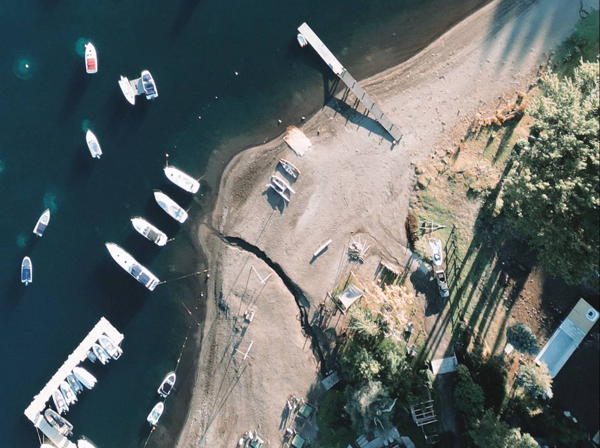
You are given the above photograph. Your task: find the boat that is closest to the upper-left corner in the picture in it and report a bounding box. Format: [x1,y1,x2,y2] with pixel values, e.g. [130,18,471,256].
[85,41,98,76]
